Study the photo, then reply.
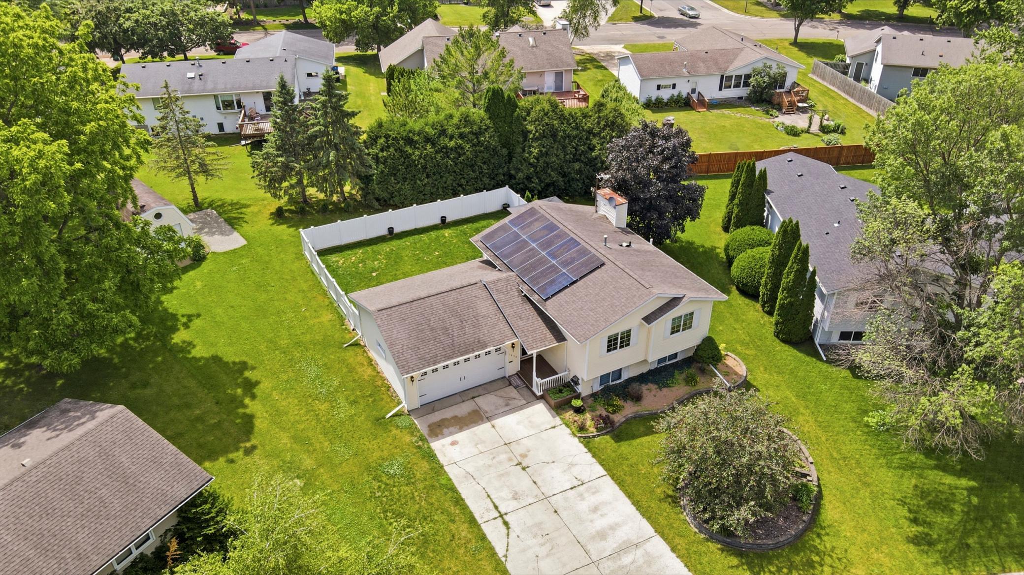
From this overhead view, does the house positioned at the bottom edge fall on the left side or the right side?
left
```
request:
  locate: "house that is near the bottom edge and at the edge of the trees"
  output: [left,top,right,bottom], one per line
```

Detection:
[0,400,214,575]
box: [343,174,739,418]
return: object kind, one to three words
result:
house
